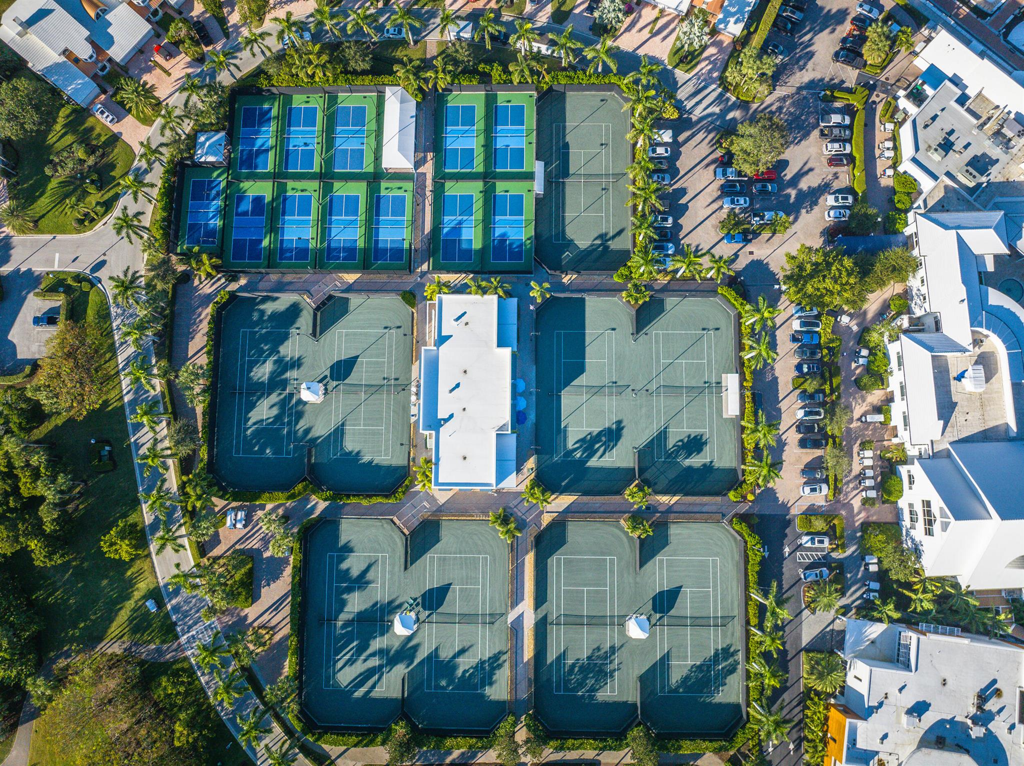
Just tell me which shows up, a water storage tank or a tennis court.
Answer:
tennis court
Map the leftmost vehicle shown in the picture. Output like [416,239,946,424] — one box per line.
[31,315,63,327]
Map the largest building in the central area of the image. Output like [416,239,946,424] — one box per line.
[418,294,518,489]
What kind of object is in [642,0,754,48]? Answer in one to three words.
house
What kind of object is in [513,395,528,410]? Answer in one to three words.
umbrella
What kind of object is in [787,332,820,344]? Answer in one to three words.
vehicle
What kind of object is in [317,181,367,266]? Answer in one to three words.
sports court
